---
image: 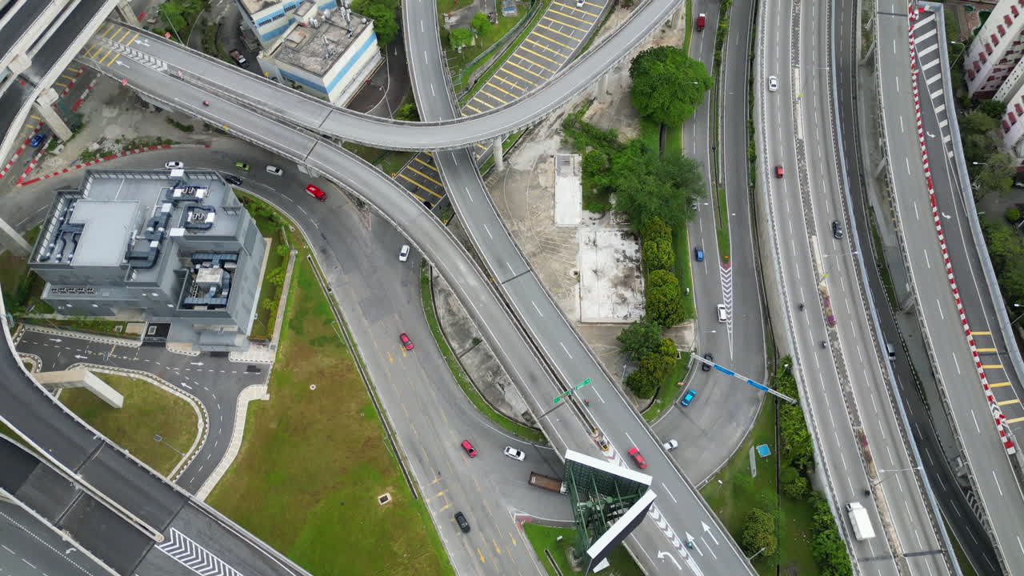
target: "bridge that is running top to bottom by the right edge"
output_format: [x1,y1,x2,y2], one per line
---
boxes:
[861,0,1024,576]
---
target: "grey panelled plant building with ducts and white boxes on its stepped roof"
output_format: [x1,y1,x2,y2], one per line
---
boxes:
[25,167,270,356]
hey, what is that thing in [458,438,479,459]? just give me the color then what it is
red car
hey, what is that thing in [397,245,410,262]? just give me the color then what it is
white vehicle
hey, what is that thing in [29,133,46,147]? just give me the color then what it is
blue car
